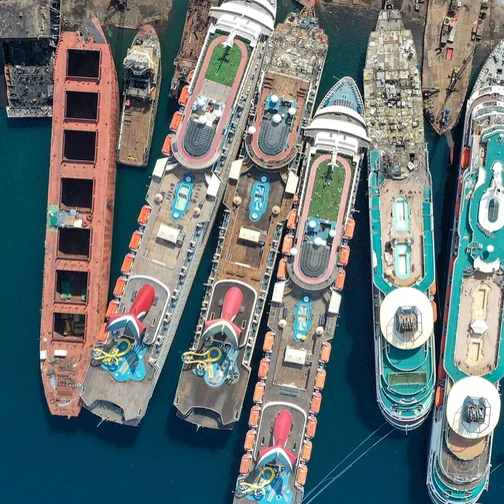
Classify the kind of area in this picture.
port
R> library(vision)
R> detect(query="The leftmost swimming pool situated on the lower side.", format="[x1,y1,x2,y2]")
[293,289,313,340]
